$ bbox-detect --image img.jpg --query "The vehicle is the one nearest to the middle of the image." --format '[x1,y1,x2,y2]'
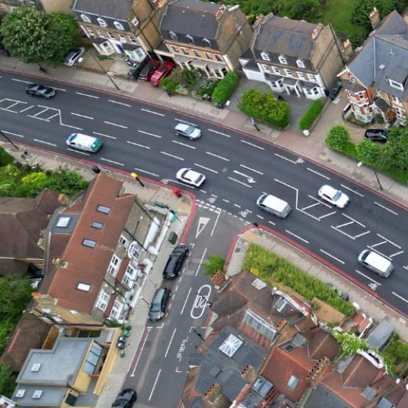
[177,168,206,188]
